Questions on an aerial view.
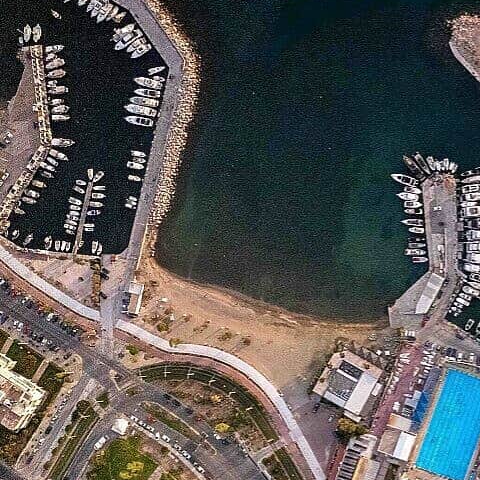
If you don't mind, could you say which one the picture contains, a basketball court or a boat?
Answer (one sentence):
Of the two, only a boat appears.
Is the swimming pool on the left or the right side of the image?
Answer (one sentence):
You can find the swimming pool on the right side of the picture.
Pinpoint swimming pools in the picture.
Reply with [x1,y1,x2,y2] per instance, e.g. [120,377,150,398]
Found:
[400,360,480,480]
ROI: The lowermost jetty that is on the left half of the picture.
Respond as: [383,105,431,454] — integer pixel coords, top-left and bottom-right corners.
[72,181,93,255]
